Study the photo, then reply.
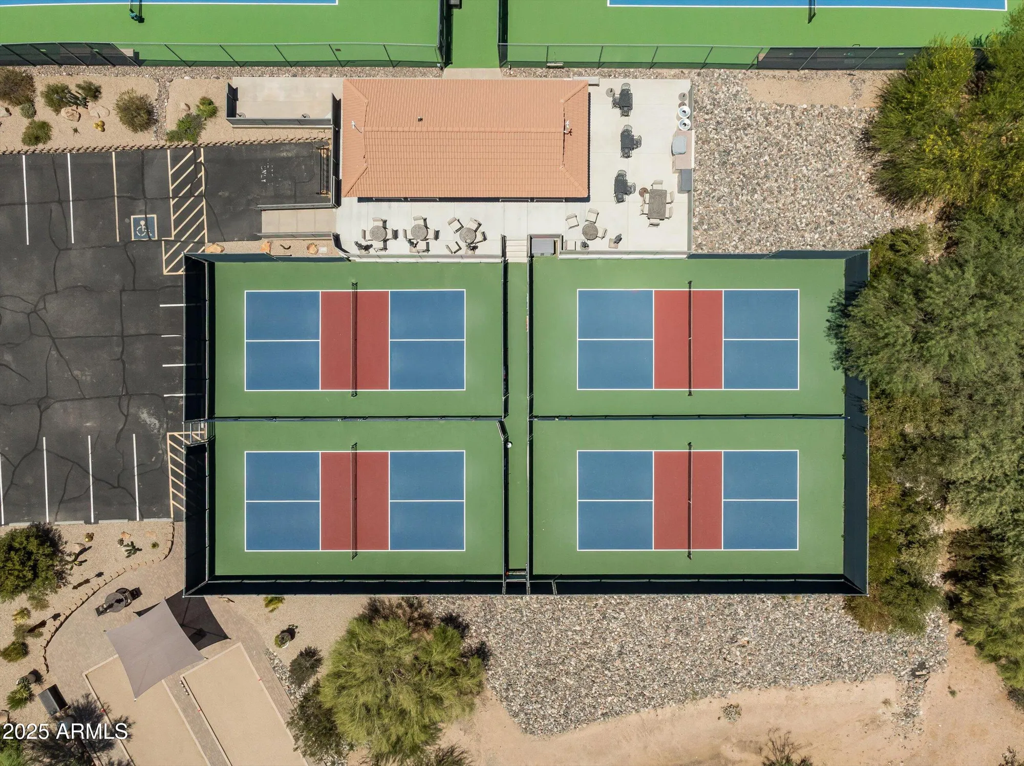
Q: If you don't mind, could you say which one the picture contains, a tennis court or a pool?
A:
tennis court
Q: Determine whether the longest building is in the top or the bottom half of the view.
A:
top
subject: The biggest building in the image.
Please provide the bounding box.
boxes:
[340,76,590,199]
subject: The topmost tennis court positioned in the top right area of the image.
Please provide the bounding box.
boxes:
[500,0,1024,69]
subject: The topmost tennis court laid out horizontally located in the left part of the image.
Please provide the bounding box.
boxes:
[0,0,443,67]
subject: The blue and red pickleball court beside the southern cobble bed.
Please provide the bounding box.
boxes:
[531,420,844,580]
